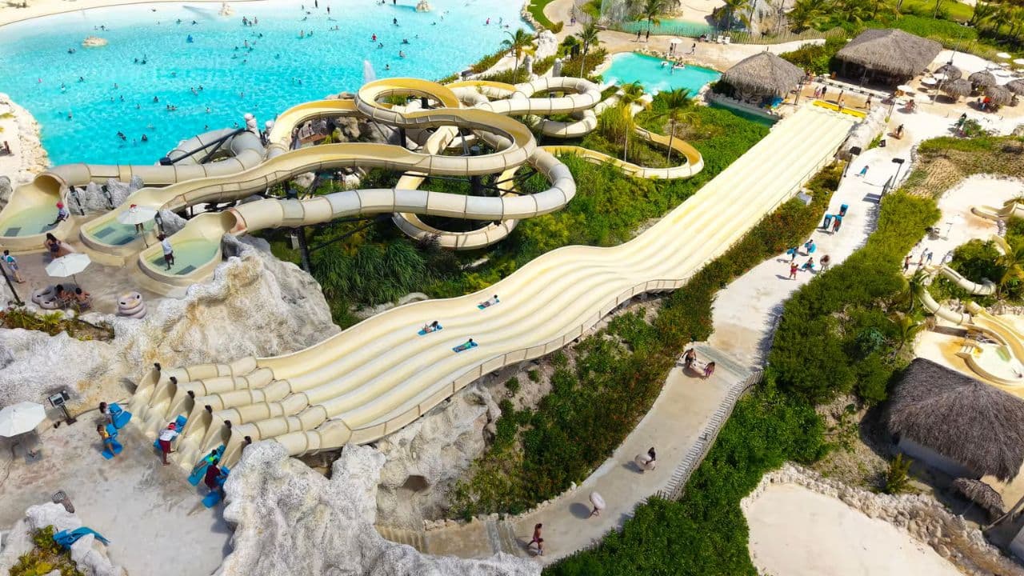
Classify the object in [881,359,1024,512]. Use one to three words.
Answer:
shed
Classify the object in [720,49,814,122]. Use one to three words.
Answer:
shed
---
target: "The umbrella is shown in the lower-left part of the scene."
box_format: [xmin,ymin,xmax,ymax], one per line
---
[0,382,46,467]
